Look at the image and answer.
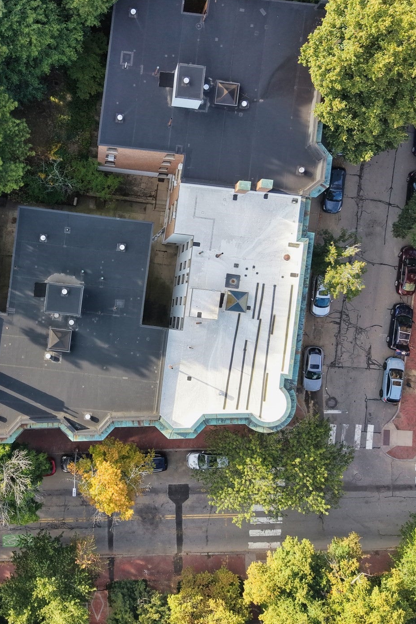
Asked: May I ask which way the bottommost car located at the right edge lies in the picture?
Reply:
from top to bottom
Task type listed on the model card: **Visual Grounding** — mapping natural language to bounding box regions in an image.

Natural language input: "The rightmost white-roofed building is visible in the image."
[153,155,313,438]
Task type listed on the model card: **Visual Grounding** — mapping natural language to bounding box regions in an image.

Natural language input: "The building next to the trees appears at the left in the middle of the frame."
[0,205,167,442]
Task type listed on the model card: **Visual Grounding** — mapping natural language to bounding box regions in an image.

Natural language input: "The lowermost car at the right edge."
[381,356,406,402]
